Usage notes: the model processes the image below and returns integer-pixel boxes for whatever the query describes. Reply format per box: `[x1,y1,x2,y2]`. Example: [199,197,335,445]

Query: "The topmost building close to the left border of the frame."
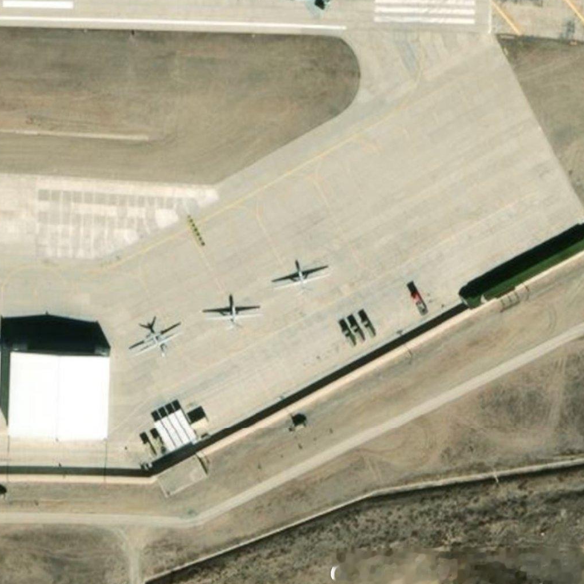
[8,344,110,442]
